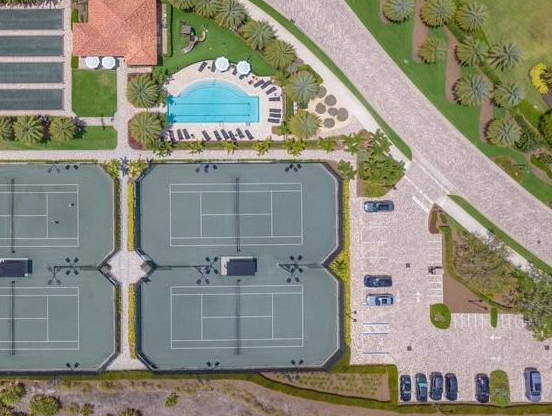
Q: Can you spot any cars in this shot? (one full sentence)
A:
Yes, this view includes a car.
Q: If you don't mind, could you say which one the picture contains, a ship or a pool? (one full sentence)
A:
This aerial view contains a pool.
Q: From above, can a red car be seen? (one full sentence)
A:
No, I find no red car anywhere in the image.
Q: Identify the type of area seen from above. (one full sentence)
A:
The area seen from above is a sports ground.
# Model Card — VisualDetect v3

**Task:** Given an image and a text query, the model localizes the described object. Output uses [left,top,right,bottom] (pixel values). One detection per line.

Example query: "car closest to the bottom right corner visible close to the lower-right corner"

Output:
[524,369,542,399]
